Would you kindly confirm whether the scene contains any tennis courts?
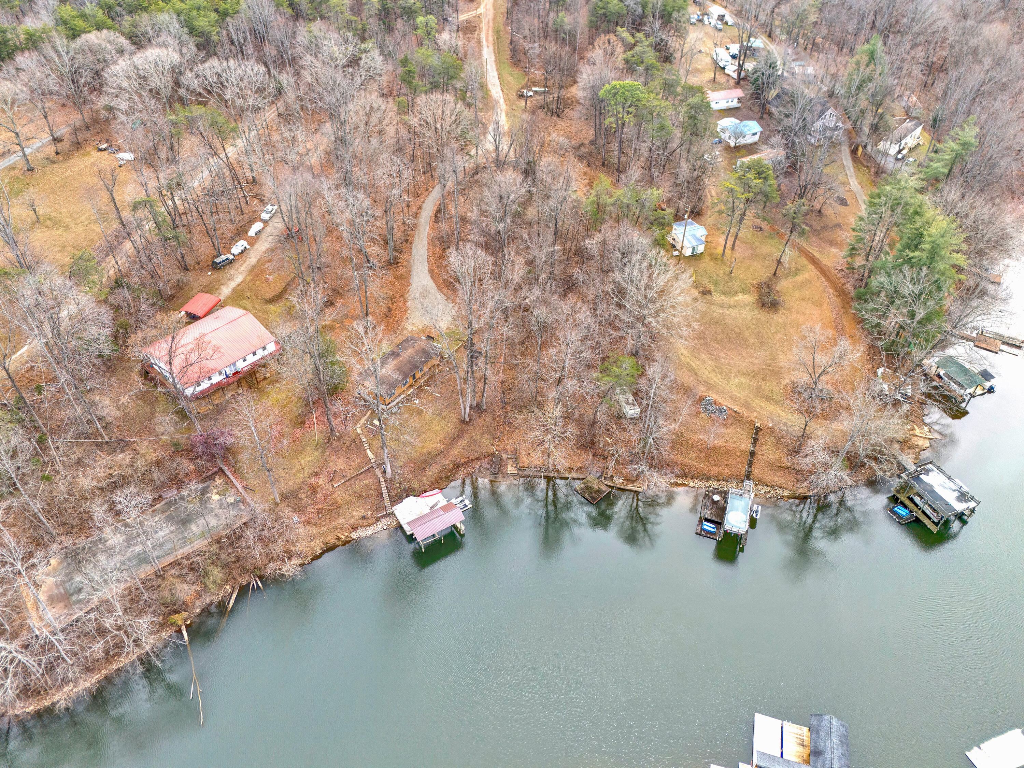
Yes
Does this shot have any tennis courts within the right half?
No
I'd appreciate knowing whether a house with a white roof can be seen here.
Yes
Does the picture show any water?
Yes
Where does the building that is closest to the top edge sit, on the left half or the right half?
right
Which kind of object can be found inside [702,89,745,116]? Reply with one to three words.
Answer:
house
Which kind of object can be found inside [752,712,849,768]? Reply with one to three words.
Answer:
pier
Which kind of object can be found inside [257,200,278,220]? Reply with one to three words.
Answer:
vehicle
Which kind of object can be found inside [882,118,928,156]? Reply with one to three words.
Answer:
house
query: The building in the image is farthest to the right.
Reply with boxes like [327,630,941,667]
[920,356,987,401]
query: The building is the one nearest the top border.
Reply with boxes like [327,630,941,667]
[708,5,730,27]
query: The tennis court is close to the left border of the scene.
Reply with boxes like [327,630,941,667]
[40,477,250,620]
